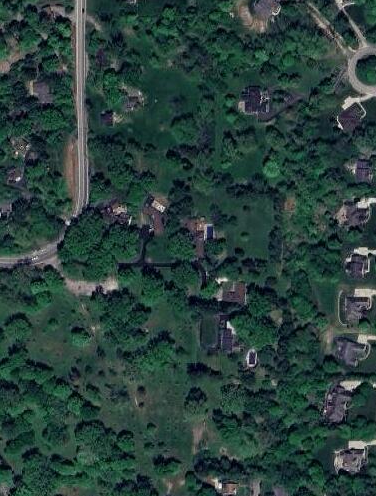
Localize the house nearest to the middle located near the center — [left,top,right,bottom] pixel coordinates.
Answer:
[185,220,205,256]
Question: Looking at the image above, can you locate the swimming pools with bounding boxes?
[247,350,256,366]
[205,225,214,239]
